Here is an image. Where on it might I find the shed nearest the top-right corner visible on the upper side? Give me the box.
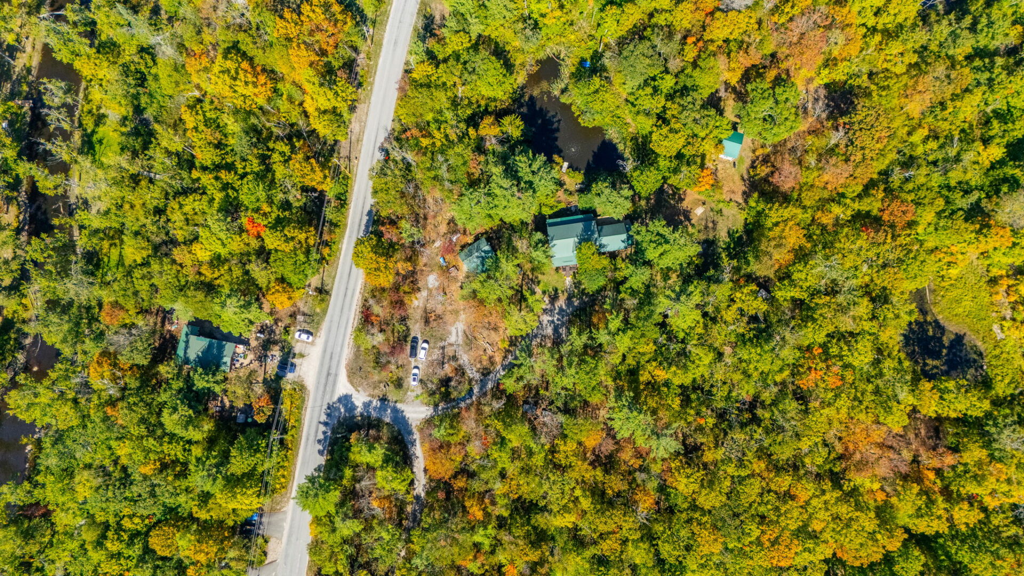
[714,130,743,163]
